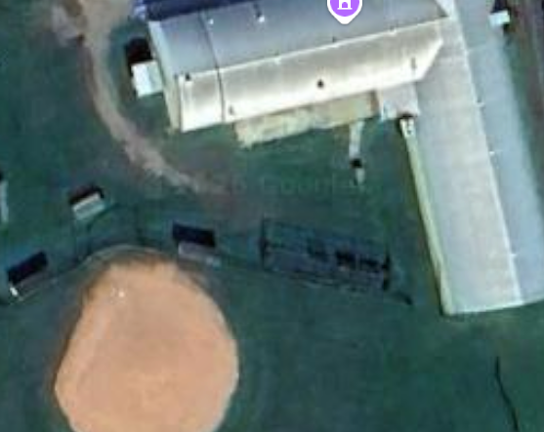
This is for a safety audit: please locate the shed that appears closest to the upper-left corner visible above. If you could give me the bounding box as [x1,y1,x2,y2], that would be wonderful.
[125,57,165,97]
